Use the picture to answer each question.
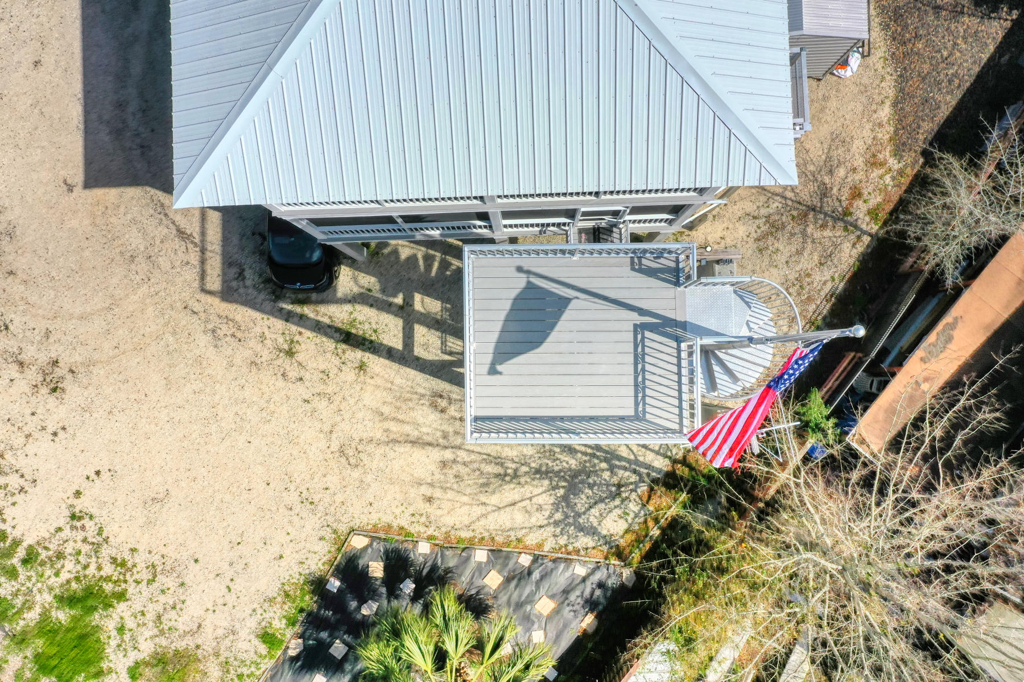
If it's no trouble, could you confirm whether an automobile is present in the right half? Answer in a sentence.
No, I can find no automobile in the right half.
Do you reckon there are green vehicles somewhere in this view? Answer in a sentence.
No, the picture doesn't show any green vehicle.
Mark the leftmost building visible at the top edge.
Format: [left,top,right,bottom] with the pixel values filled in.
[168,0,813,258]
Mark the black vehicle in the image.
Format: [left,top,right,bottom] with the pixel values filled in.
[266,207,345,293]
